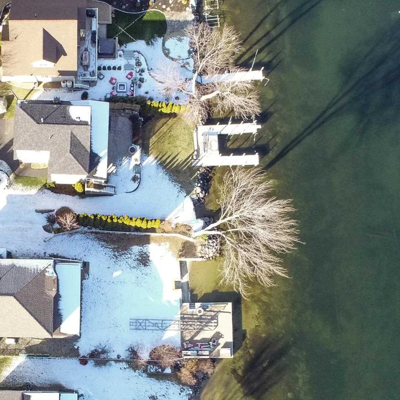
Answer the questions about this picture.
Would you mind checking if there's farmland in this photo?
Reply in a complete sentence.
No, the scene doesn't show any farmland.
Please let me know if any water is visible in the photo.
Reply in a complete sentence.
Yes, some water is visible.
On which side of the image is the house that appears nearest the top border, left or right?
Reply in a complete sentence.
The house that appears nearest the top border is on the left side of the image.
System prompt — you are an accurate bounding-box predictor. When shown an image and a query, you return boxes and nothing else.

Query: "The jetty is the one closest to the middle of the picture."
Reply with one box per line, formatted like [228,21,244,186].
[195,117,260,167]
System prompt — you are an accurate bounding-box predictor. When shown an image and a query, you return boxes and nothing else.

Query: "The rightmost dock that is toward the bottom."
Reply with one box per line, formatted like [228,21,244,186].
[181,302,235,358]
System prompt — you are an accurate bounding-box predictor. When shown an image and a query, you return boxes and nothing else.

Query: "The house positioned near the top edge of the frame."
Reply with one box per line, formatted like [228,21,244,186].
[1,0,87,83]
